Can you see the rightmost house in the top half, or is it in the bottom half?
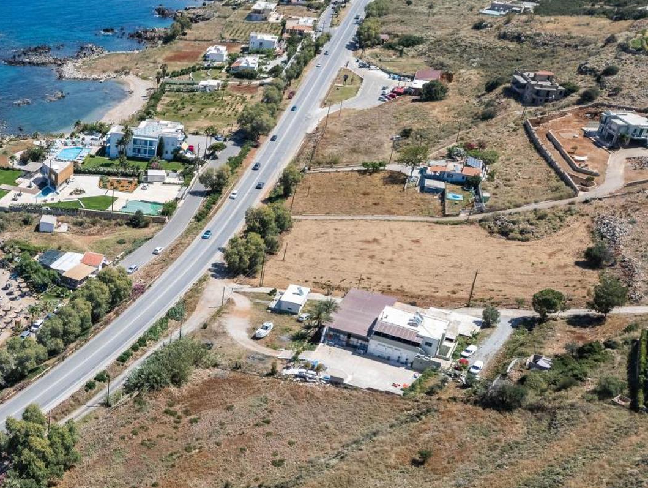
top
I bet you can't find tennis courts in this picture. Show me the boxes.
[121,200,161,215]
